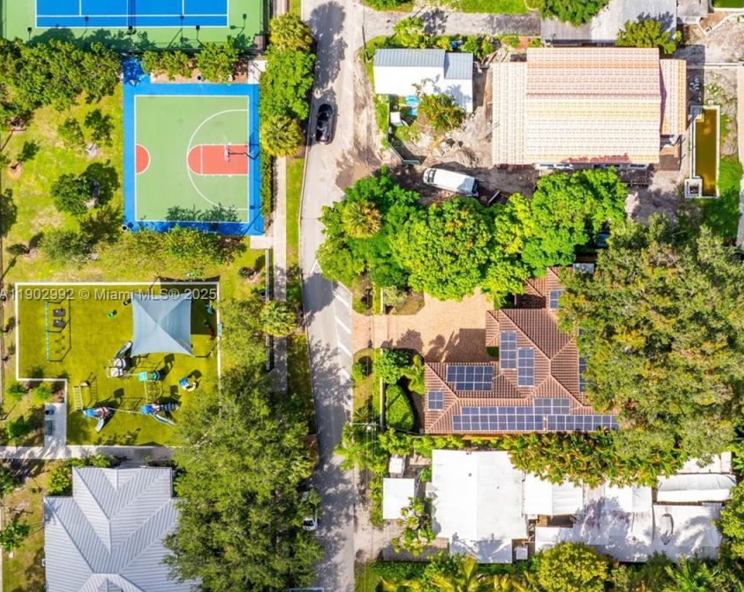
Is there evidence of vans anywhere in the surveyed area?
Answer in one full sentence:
Yes, I can see a van in this picture.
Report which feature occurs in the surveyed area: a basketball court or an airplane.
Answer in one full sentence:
The one in the frame is a basketball court.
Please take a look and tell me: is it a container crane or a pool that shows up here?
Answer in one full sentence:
This aerial view contains a pool.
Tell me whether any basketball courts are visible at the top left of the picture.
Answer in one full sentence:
Yes, the scene does show a basketball court at the top left of the picture.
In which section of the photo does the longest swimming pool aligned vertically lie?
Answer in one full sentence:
The longest swimming pool aligned vertically sits in the top right section of the image.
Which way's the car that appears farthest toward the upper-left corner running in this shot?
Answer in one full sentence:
In this picture, the car that appears farthest toward the upper-left corner is oriented up and down.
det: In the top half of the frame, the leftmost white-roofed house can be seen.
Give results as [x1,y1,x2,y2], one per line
[374,49,473,113]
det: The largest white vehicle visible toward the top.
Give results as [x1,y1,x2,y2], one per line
[424,164,476,194]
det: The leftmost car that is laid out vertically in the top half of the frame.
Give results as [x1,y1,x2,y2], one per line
[313,100,334,141]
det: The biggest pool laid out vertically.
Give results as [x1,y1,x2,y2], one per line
[690,104,720,196]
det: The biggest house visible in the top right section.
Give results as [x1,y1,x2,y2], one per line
[492,46,686,173]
